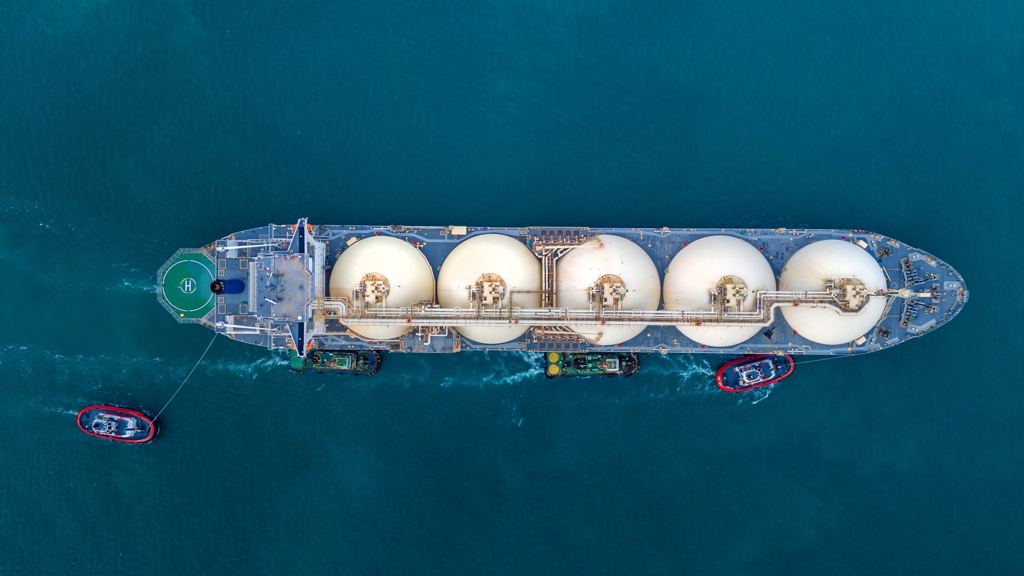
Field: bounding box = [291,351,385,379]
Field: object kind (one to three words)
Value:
boat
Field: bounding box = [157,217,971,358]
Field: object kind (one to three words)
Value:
ship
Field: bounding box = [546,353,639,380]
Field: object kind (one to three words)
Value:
boat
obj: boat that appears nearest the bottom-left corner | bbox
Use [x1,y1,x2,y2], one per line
[77,407,160,441]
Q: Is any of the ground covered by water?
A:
Yes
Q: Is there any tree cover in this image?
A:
No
